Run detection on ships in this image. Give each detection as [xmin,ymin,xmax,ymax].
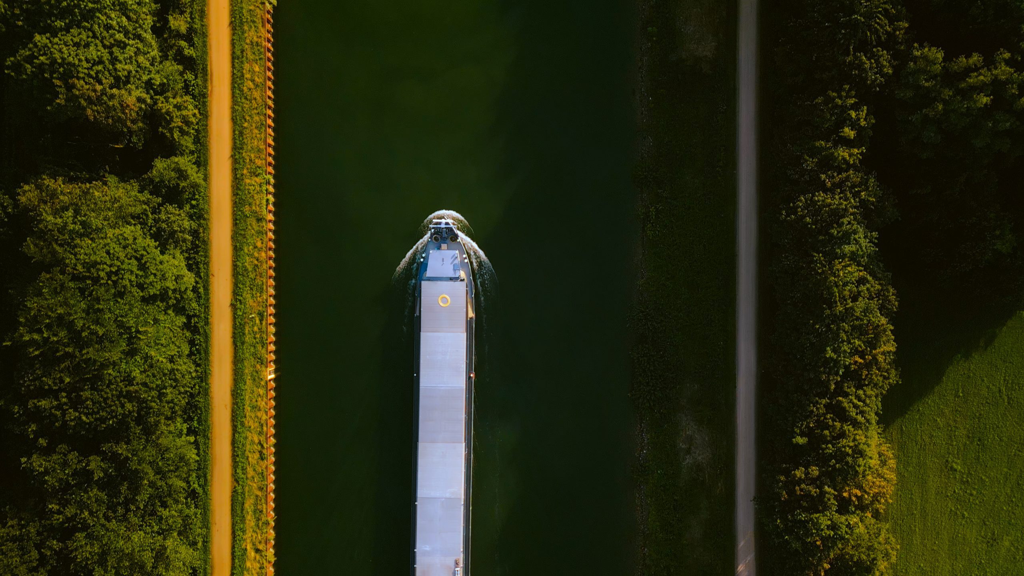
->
[410,216,475,576]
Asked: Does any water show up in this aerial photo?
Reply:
Yes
